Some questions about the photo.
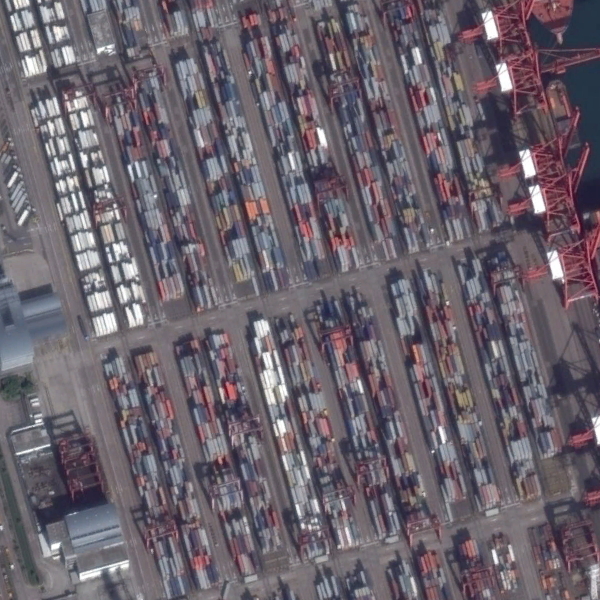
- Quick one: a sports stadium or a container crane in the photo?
container crane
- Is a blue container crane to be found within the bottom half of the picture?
No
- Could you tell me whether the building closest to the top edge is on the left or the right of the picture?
left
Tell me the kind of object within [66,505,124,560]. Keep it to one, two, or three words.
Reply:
building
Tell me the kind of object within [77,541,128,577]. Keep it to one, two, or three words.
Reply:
shed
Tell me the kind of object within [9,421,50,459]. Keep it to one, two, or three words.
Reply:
building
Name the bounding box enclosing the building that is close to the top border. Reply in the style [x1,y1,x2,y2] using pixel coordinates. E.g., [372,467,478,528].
[87,11,116,56]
